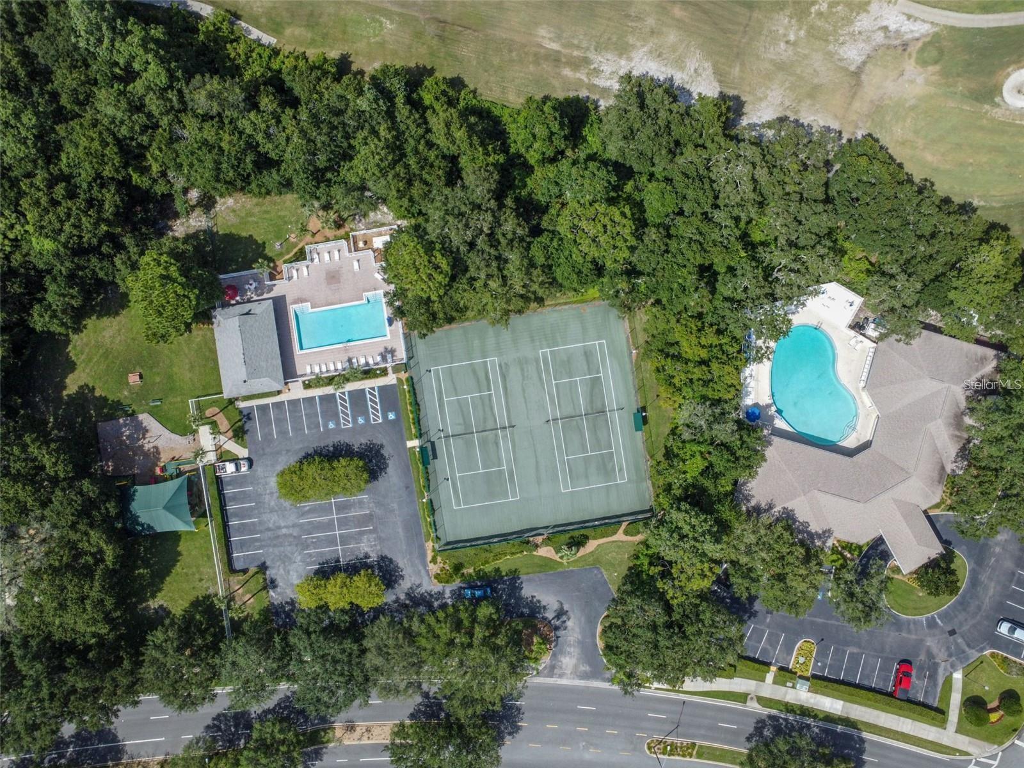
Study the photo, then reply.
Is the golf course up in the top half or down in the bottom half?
top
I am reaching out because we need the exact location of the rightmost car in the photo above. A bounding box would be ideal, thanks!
[995,621,1024,641]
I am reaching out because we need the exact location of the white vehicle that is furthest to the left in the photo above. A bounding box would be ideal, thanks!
[213,459,251,475]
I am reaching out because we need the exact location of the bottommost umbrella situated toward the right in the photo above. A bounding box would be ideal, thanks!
[746,407,760,422]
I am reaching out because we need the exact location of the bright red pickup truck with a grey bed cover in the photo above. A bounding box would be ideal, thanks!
[893,661,914,700]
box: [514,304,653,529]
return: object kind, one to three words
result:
tennis court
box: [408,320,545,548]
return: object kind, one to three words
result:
tennis court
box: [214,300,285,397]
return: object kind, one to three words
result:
building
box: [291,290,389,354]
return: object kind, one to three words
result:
swimming pool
